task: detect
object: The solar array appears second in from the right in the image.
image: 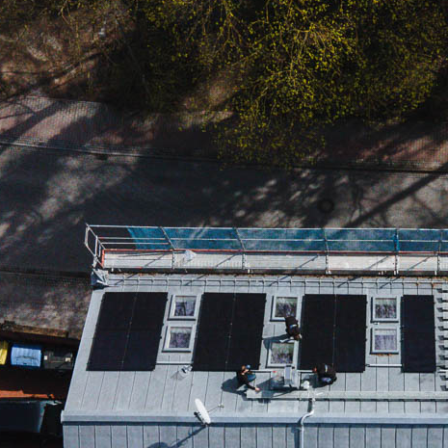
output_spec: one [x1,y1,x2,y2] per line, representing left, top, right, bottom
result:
[298,295,368,372]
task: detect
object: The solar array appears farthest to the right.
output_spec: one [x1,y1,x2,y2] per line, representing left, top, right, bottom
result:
[401,295,436,372]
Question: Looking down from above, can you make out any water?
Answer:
No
